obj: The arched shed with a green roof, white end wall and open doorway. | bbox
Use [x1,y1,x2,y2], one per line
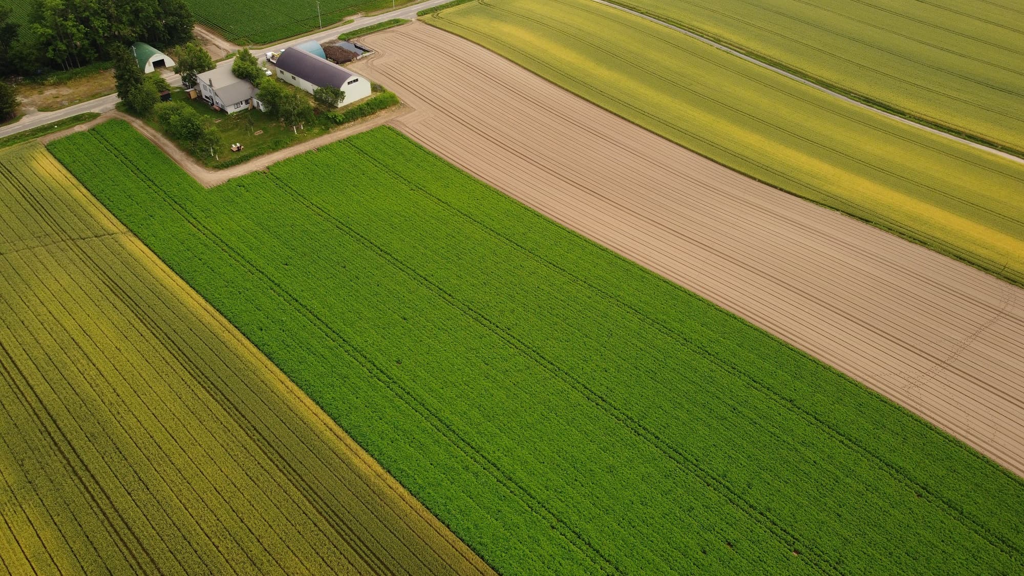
[125,40,176,73]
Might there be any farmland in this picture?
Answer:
Yes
